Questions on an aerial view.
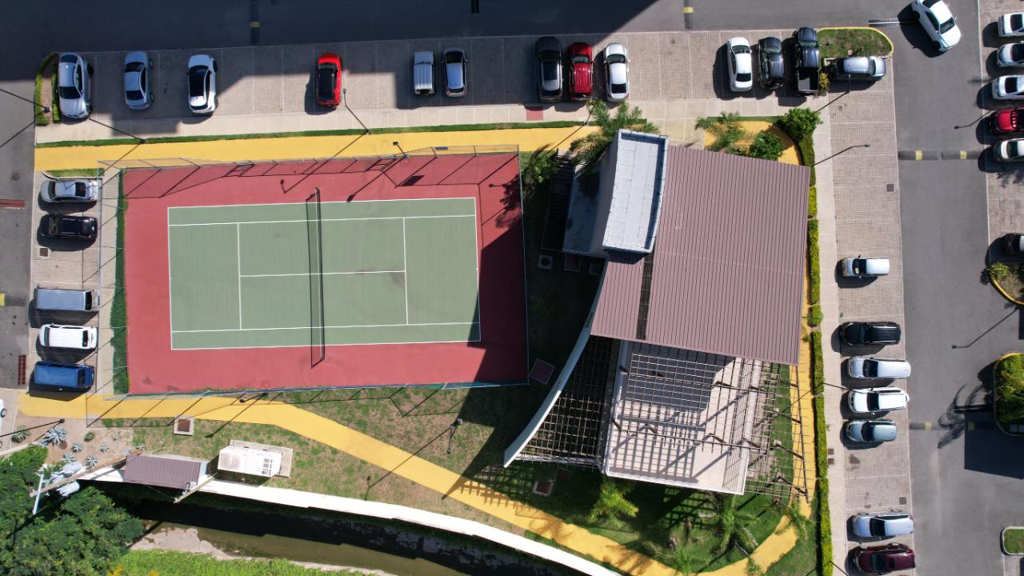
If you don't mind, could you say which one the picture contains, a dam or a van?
van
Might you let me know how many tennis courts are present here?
1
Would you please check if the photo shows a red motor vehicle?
Yes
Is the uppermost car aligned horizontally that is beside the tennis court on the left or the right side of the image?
left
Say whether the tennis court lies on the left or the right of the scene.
left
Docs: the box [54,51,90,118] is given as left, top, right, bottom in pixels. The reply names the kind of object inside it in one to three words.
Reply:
car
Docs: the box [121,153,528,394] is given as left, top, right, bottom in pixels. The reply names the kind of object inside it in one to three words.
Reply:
tennis court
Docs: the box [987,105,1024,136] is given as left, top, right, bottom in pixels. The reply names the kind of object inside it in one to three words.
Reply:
truck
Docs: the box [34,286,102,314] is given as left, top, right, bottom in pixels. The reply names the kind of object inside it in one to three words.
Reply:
van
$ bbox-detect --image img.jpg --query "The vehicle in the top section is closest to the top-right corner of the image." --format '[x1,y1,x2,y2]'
[997,12,1024,39]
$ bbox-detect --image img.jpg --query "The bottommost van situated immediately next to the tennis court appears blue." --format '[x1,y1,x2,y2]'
[34,362,99,391]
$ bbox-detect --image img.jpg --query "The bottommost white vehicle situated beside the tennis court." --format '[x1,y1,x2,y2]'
[40,322,99,351]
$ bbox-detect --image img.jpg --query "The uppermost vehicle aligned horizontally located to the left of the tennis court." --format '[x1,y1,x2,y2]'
[39,176,99,204]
